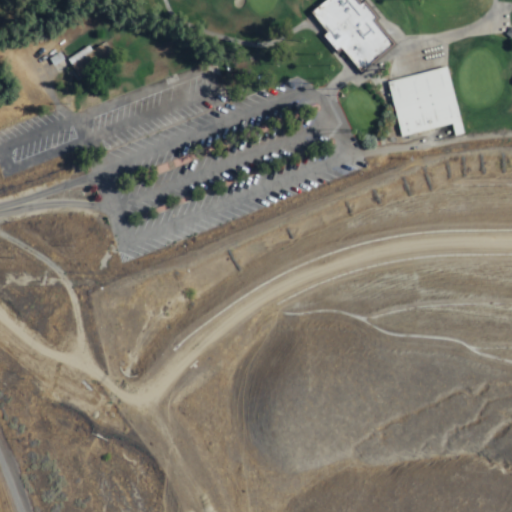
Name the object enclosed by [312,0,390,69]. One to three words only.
building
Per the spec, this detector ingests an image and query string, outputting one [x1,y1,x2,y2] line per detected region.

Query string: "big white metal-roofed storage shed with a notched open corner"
[389,67,465,136]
